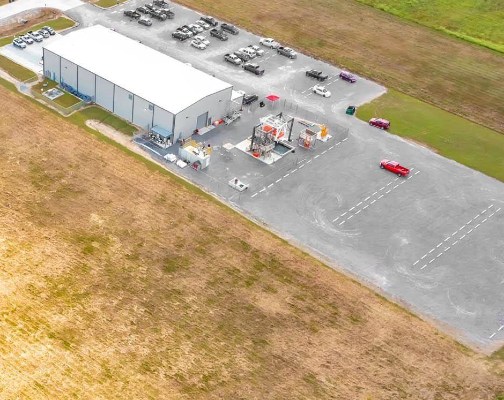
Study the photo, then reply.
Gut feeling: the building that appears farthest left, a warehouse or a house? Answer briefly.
warehouse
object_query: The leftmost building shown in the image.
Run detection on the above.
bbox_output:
[39,22,233,144]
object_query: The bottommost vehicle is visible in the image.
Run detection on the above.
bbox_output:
[379,160,410,178]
